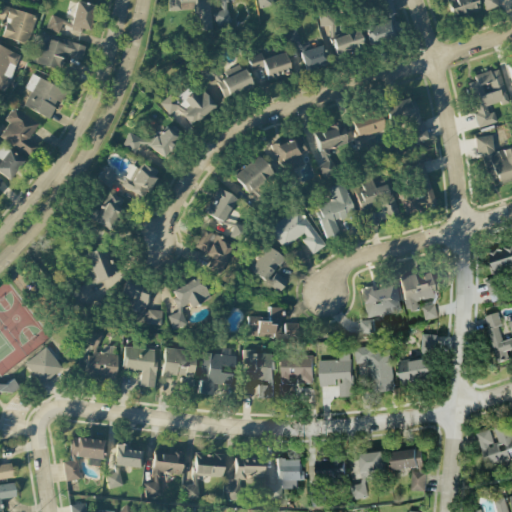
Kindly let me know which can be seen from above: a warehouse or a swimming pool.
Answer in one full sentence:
Of the two, only a swimming pool appears.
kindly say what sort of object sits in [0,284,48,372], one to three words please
basketball court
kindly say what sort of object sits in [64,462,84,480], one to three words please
building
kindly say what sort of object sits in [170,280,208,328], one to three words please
house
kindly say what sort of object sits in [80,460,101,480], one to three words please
swimming pool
